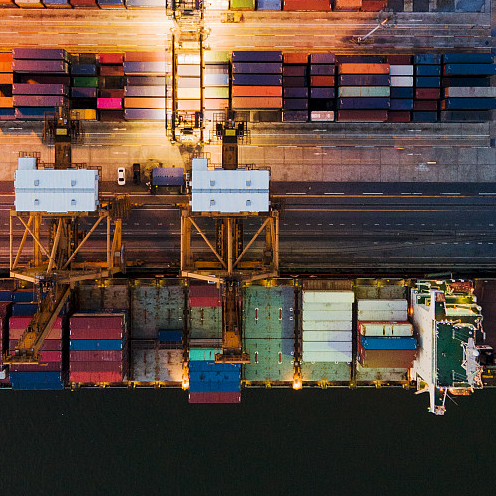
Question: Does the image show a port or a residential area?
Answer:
port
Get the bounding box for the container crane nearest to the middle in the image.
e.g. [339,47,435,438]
[162,105,293,360]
